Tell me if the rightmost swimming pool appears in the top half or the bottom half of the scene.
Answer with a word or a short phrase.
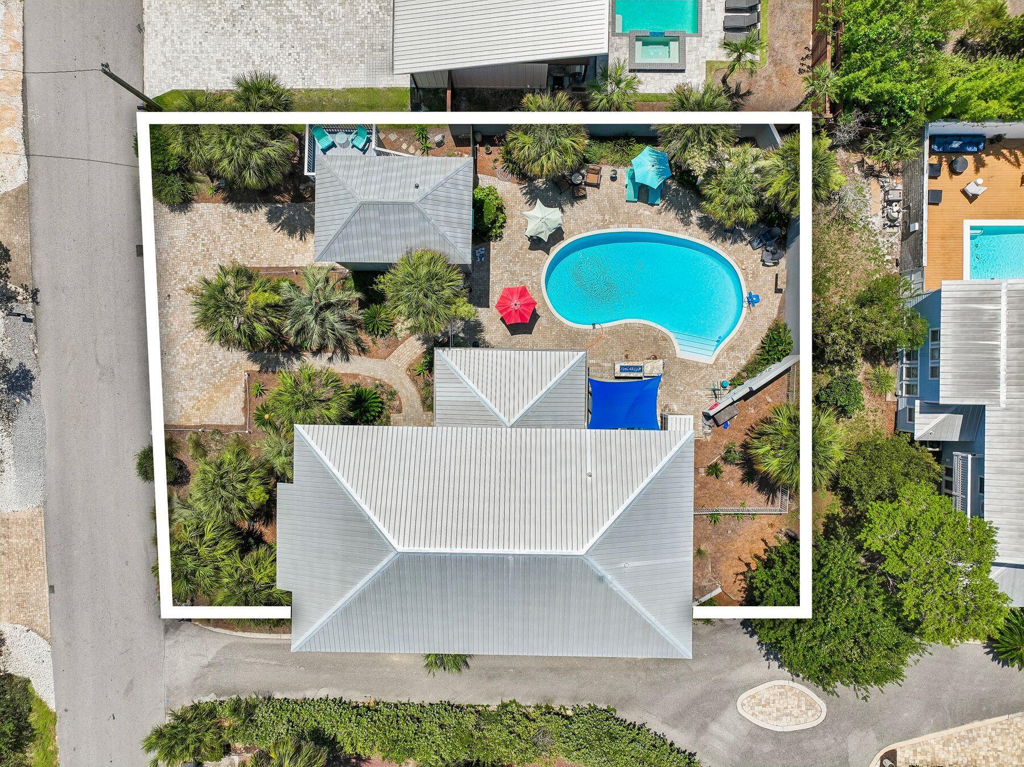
top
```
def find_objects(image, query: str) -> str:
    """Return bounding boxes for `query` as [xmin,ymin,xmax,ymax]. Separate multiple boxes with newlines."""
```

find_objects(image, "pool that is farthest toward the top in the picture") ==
[612,0,702,36]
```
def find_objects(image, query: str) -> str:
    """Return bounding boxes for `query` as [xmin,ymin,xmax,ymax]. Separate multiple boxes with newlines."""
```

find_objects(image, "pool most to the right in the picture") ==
[964,219,1024,279]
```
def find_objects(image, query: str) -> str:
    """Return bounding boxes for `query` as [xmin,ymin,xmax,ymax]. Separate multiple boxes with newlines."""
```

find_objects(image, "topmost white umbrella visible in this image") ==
[523,200,561,241]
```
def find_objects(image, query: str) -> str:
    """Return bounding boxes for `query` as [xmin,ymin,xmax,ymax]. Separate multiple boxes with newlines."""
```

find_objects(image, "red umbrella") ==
[495,286,537,324]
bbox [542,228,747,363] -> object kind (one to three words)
swimming pool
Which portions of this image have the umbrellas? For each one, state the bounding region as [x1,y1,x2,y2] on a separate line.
[523,200,561,241]
[495,286,537,324]
[631,148,671,189]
